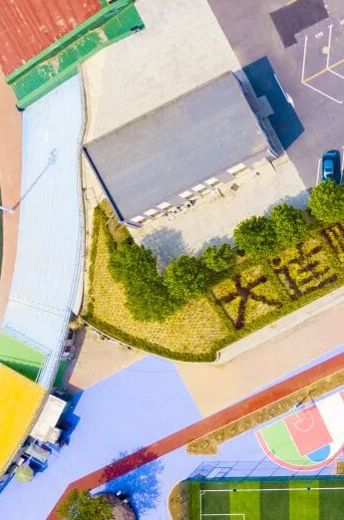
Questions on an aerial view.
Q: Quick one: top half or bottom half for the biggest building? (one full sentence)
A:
The biggest building is in the top half of the image.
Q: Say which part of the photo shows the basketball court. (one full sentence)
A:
The basketball court is in the bottom right part of the image.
